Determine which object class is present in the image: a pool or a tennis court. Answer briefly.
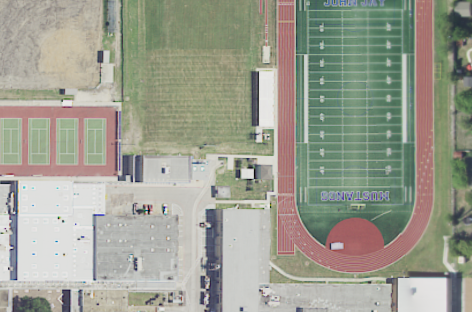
tennis court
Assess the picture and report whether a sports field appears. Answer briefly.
Yes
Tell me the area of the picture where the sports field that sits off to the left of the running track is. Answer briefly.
top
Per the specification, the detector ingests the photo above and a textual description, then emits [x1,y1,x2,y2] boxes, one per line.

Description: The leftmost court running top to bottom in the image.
[0,118,22,164]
